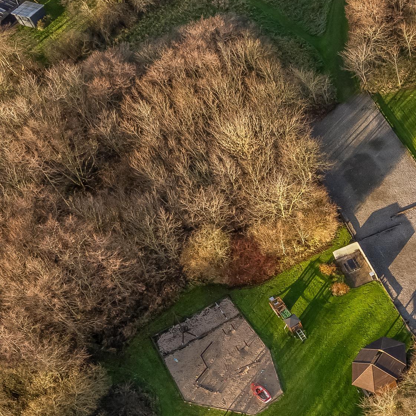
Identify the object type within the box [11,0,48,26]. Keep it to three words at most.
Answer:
shed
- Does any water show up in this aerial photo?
No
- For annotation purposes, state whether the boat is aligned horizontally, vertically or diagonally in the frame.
diagonally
